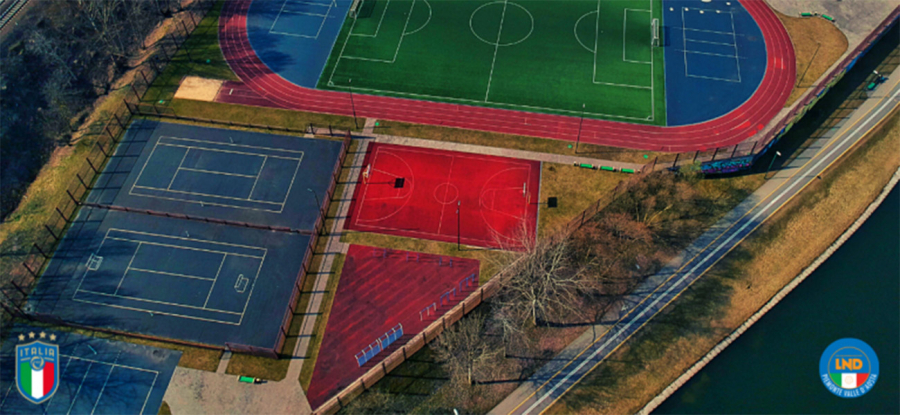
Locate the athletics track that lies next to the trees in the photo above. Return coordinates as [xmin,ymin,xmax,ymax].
[219,0,799,153]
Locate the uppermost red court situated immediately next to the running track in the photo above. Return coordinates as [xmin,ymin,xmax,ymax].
[344,142,543,249]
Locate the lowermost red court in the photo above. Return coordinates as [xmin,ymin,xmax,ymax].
[308,244,483,414]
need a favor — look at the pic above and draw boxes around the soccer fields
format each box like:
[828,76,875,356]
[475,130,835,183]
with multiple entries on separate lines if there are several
[315,0,666,126]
